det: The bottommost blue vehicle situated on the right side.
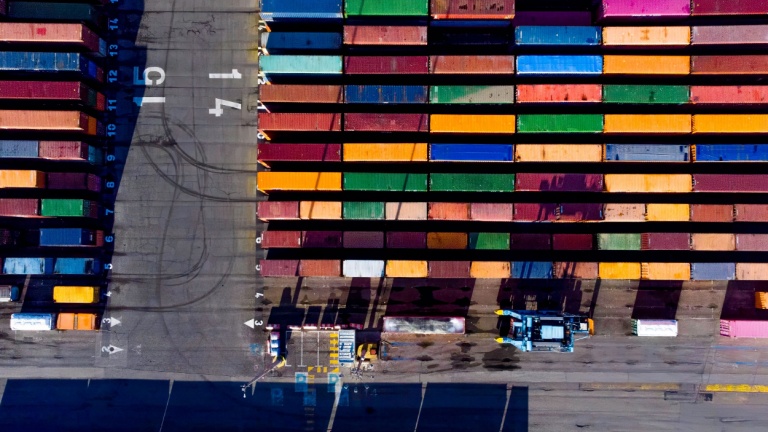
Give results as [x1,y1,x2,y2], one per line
[493,308,592,356]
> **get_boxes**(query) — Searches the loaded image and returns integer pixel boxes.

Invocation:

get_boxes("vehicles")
[493,308,592,356]
[367,334,376,356]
